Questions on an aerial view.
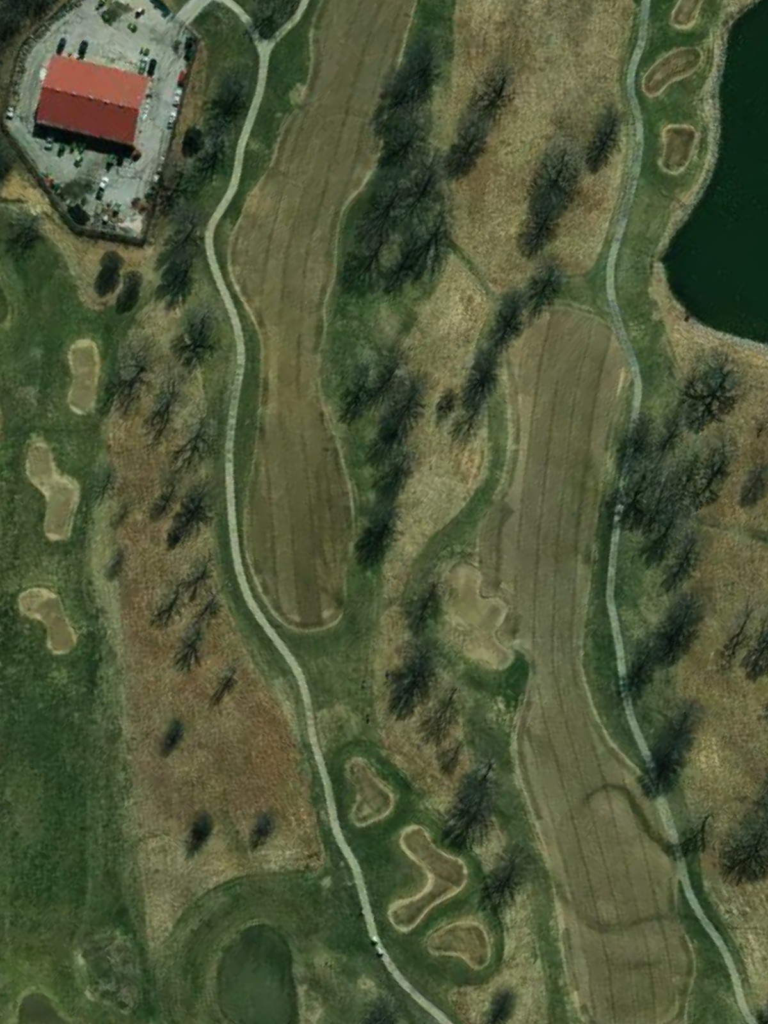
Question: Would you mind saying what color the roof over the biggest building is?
red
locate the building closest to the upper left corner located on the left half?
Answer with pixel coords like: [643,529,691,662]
[35,56,150,144]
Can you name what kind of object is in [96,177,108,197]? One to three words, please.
vehicle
